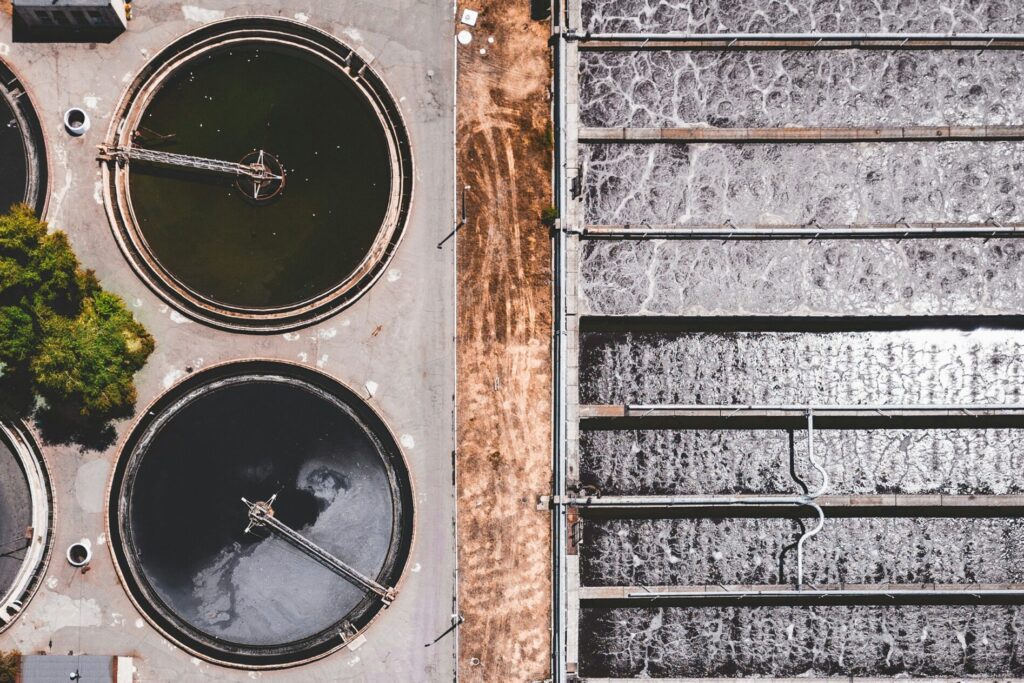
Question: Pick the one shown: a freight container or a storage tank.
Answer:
storage tank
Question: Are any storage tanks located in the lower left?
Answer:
Yes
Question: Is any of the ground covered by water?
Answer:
Yes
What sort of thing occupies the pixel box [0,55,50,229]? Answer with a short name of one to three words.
storage tank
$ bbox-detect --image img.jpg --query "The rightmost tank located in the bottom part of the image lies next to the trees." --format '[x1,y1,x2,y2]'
[106,359,415,668]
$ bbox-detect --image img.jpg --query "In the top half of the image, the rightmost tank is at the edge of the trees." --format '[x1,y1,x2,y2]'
[102,17,414,331]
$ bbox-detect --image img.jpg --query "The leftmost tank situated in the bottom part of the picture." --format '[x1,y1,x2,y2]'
[0,395,58,636]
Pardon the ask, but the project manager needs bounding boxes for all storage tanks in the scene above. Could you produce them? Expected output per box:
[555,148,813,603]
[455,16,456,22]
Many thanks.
[0,395,58,636]
[102,17,414,331]
[106,359,415,668]
[0,55,50,229]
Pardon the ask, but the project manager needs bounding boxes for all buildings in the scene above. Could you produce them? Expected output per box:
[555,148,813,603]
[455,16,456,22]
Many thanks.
[16,656,140,683]
[13,0,125,29]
